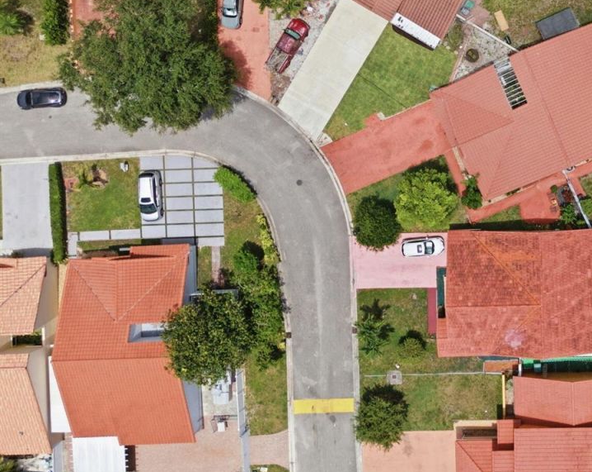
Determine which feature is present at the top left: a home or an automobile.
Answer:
automobile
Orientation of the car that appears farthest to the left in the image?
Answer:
from left to right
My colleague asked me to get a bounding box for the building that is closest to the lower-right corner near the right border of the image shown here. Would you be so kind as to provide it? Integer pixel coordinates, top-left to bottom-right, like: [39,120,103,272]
[456,370,592,472]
